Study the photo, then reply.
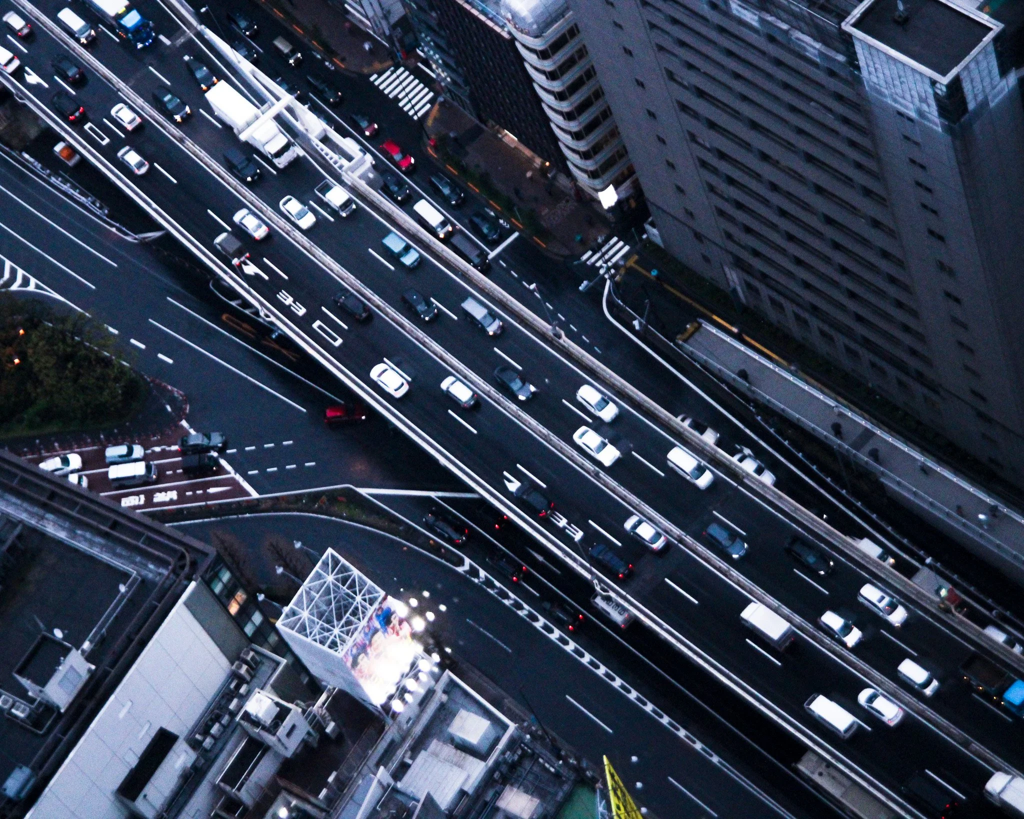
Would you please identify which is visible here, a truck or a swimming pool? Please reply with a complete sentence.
The image shows a truck.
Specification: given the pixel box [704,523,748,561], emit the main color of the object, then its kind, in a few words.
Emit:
blue car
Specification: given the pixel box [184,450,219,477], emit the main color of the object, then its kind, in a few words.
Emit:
black truck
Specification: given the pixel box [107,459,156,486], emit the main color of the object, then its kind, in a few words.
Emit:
white vehicle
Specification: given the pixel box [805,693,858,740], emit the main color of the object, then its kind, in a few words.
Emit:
white van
